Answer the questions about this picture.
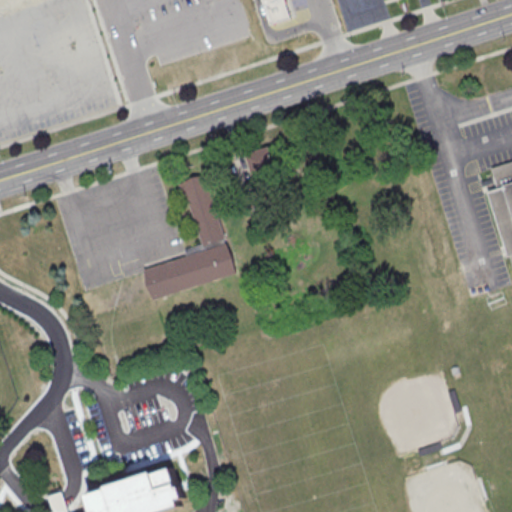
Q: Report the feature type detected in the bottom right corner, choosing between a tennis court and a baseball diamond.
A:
baseball diamond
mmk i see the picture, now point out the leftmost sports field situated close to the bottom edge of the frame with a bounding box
[218,344,376,512]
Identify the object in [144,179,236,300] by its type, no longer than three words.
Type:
building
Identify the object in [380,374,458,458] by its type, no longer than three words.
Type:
baseball field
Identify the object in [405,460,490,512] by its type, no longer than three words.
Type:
baseball field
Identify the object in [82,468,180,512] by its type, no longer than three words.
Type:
building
